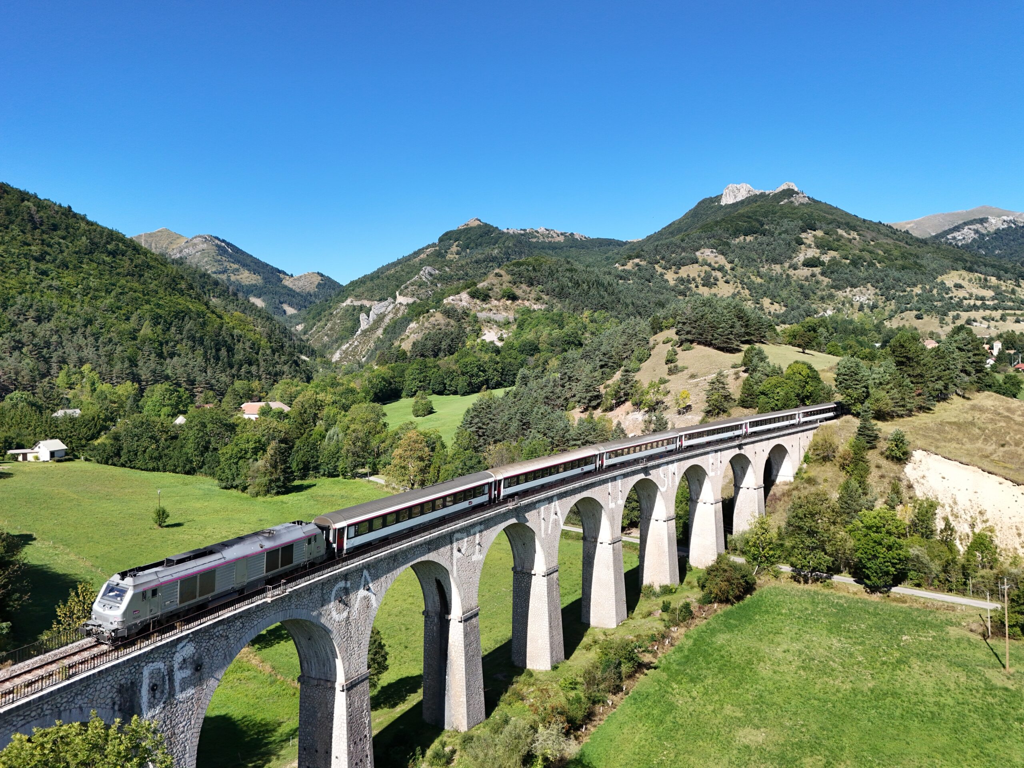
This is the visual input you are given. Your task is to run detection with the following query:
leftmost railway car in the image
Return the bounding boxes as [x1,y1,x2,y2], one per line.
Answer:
[79,517,330,644]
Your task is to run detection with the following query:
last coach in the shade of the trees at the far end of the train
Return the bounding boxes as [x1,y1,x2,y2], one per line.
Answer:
[789,403,841,427]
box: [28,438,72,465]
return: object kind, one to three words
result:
house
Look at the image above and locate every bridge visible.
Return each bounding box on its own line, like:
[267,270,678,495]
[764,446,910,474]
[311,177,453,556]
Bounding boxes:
[0,421,813,768]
